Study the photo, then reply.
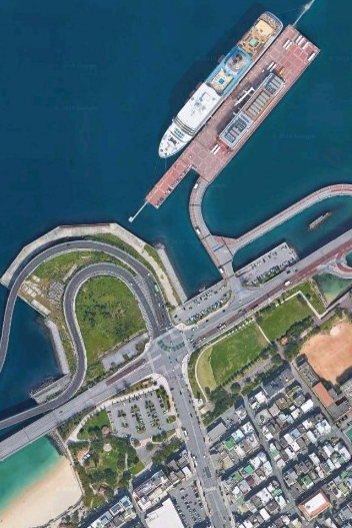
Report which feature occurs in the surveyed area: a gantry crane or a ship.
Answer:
ship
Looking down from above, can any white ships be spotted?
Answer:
Yes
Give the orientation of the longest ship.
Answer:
on a diagonal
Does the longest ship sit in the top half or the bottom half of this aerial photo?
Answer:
top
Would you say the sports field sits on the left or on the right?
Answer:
right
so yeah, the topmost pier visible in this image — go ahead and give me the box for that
[146,25,321,209]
